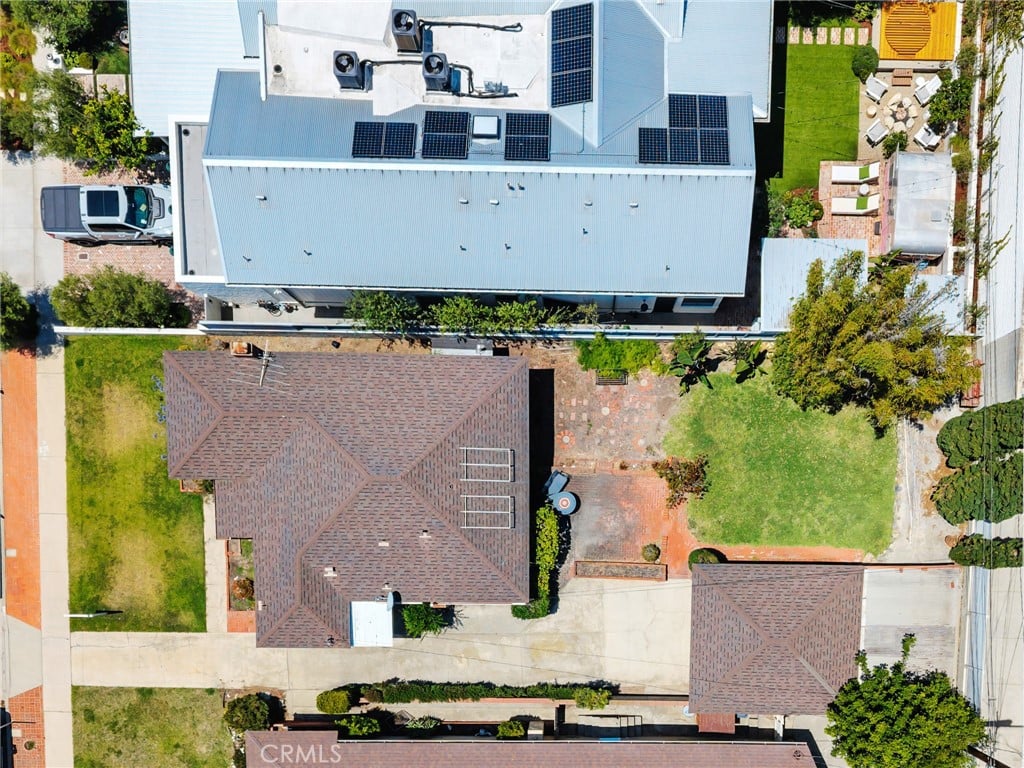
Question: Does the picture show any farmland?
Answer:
No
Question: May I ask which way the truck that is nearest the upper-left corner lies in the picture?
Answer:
from side to side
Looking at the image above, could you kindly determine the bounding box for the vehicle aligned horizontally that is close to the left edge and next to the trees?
[41,179,174,244]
